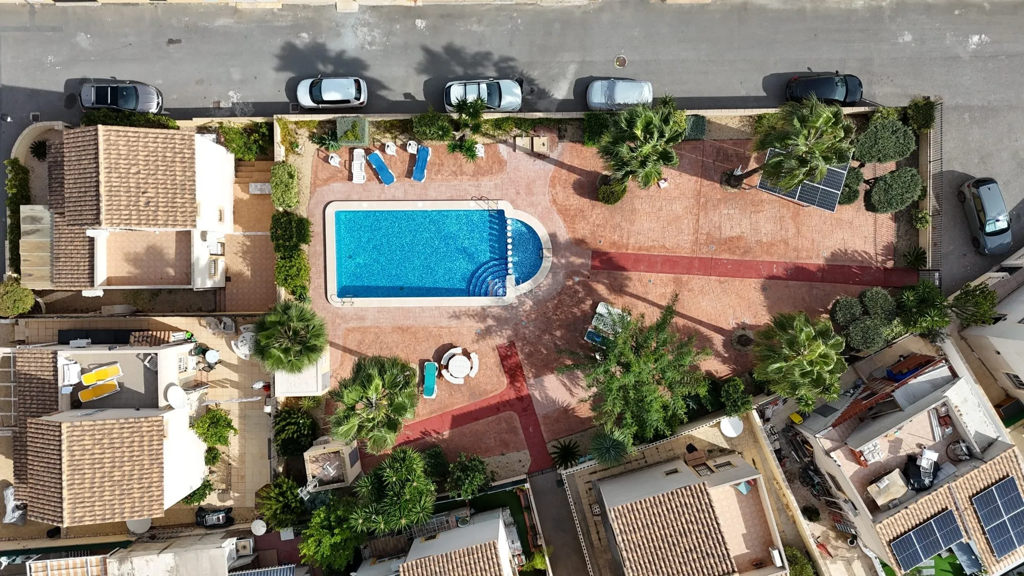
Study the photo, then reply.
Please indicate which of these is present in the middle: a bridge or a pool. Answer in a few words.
pool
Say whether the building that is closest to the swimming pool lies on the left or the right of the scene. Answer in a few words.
left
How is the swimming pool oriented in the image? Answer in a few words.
from side to side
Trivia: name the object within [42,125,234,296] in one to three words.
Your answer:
house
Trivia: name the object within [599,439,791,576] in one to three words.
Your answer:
house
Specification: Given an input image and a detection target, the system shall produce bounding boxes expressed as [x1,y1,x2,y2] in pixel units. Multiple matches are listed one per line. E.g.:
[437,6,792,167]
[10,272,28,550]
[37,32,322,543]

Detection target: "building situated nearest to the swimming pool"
[274,347,336,397]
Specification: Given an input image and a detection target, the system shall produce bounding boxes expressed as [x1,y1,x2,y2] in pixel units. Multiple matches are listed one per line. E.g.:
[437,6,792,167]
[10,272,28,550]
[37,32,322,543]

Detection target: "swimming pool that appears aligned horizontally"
[325,201,552,306]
